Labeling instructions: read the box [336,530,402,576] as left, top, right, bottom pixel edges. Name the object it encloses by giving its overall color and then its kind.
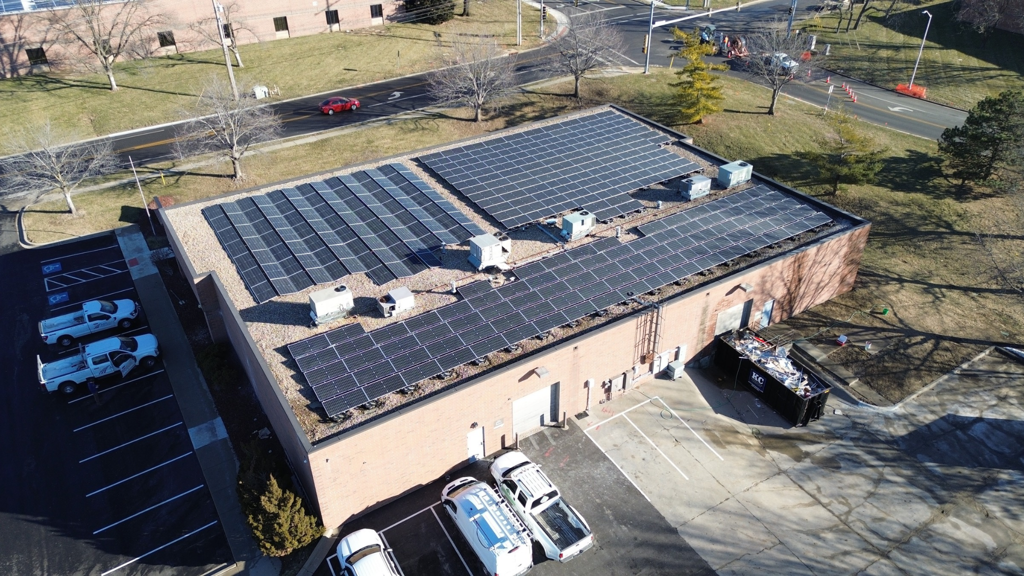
white car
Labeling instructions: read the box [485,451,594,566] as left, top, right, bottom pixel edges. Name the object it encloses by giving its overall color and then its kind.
white truck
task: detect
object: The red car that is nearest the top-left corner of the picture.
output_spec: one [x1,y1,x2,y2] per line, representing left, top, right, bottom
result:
[316,95,361,114]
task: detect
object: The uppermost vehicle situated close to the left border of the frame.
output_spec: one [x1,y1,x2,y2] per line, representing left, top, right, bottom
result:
[39,300,140,347]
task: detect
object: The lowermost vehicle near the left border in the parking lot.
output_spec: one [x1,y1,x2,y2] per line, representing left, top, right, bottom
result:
[40,336,162,395]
